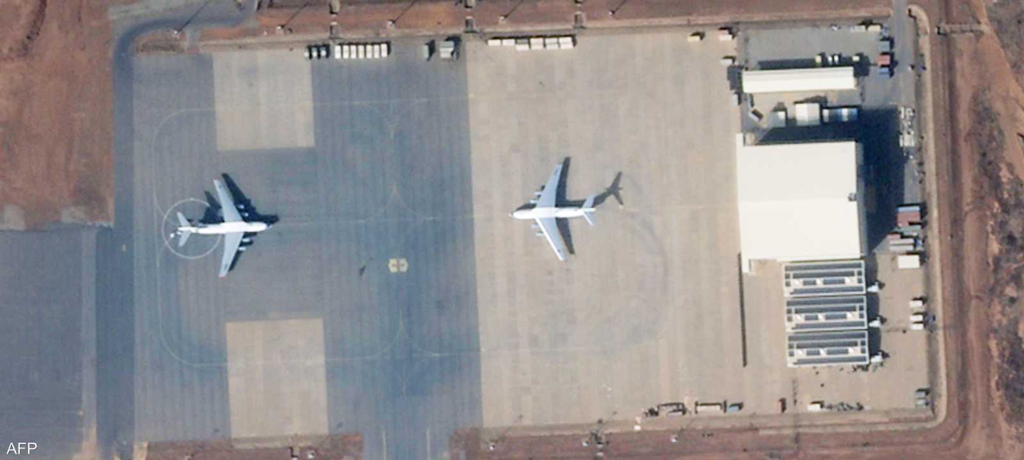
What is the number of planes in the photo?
two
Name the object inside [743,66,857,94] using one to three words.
shed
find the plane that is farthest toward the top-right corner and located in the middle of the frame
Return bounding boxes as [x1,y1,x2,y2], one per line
[510,164,598,262]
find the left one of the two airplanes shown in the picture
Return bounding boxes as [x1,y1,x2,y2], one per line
[177,179,271,277]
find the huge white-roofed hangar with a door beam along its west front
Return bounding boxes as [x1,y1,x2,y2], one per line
[736,133,868,274]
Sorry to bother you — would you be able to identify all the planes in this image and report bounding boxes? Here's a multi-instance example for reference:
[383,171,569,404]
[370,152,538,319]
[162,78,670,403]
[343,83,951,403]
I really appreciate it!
[177,179,271,277]
[510,164,598,262]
